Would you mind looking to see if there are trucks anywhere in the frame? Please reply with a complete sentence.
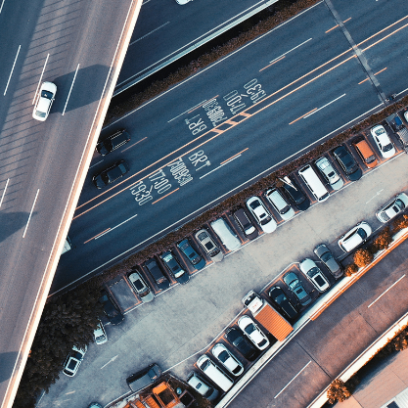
Yes, there's a truck here.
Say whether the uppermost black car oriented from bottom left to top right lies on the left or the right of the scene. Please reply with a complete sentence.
It is on the left.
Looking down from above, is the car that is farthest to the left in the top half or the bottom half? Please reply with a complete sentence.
The car that is farthest to the left is in the top half of the image.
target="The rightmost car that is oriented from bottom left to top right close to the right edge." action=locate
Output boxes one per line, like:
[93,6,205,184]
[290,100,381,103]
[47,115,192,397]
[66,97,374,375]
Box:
[375,193,408,224]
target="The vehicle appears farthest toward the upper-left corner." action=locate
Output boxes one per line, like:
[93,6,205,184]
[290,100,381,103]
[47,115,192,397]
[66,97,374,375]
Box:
[32,82,57,124]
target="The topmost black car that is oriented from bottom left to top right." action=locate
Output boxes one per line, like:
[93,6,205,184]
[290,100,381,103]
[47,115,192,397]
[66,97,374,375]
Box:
[96,127,133,157]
